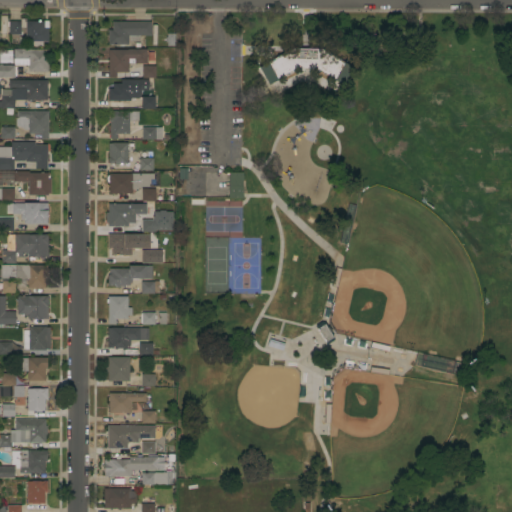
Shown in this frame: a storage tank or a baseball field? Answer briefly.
baseball field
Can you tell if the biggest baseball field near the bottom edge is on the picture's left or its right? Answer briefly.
right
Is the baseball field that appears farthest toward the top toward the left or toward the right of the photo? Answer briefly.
right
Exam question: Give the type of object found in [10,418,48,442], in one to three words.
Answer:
house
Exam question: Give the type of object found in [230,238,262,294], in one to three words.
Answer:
basketball court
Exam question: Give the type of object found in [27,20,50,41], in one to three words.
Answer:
house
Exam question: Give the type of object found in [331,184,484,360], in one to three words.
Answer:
baseball field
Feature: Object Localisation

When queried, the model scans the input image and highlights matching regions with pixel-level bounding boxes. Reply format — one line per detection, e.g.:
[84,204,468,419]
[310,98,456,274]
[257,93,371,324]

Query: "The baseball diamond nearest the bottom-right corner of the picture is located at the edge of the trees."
[332,370,464,499]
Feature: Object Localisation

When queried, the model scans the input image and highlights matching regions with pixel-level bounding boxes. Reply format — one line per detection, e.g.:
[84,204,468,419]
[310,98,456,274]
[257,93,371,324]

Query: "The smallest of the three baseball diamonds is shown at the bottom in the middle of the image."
[239,366,302,428]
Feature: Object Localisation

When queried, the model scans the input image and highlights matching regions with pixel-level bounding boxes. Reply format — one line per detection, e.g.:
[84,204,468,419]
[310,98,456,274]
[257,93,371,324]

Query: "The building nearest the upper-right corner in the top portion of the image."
[260,48,350,84]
